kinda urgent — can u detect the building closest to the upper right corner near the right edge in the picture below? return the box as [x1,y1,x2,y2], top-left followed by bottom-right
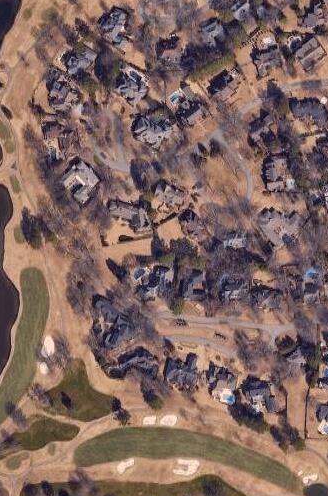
[303,1,328,36]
